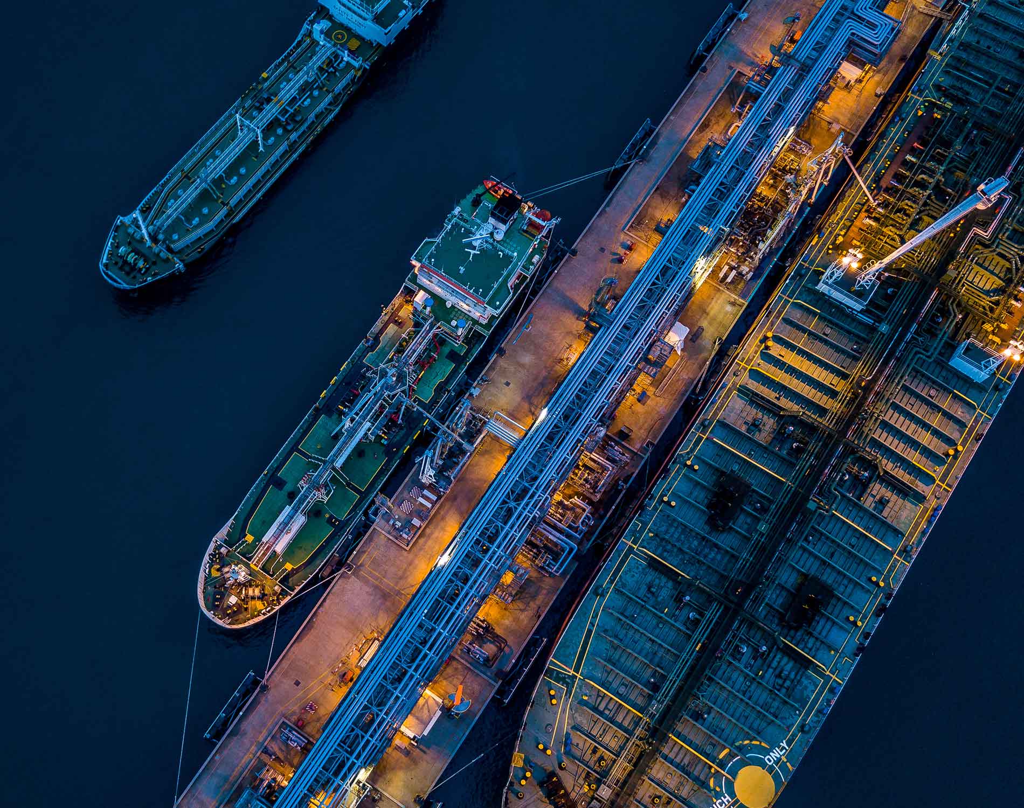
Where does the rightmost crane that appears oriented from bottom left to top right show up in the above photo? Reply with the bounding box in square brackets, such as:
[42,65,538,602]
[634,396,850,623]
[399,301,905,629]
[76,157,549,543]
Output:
[854,167,1021,281]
